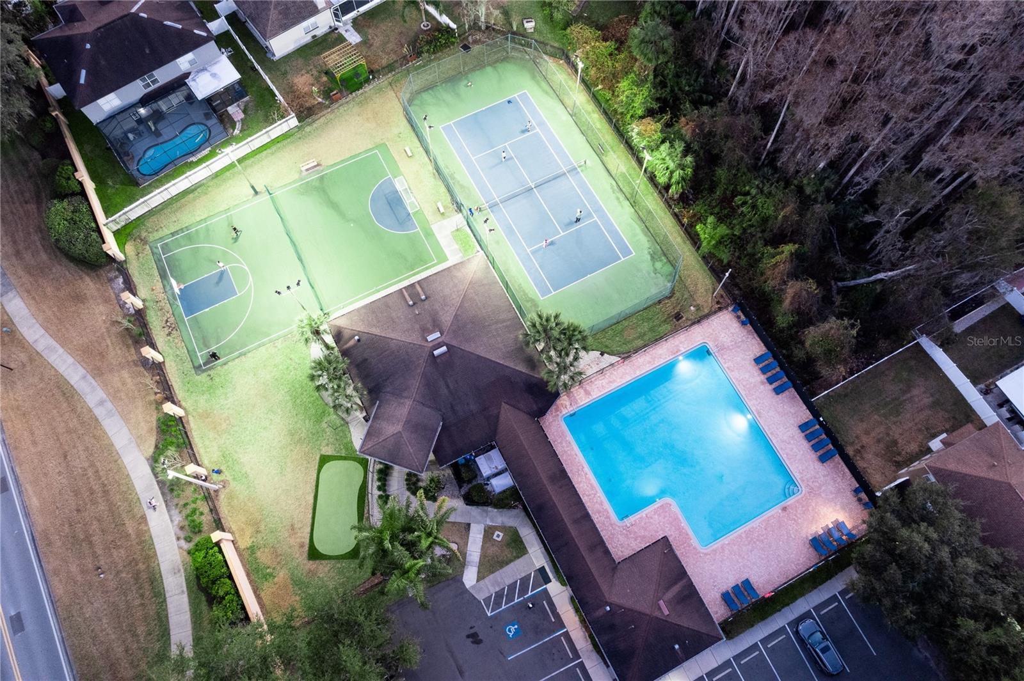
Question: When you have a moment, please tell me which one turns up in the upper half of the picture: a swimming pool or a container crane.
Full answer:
What appears in the upper half of the picture is a swimming pool.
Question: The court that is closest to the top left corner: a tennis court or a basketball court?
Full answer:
It turns out the court that is closest to the top left corner is a basketball court.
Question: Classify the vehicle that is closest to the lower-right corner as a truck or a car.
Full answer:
In the photo, the vehicle that is closest to the lower-right corner shows up as a car.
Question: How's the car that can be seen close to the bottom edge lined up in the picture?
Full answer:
Seen from above, the car that can be seen close to the bottom edge lies on a diagonal.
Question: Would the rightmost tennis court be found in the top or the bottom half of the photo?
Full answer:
The rightmost tennis court sits in the top half of the picture.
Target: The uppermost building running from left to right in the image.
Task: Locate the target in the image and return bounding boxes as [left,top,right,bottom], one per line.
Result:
[234,0,383,61]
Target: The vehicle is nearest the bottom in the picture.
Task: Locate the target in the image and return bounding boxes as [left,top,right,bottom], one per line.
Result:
[798,615,849,676]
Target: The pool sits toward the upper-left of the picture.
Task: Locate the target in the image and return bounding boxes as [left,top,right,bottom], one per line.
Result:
[135,121,211,175]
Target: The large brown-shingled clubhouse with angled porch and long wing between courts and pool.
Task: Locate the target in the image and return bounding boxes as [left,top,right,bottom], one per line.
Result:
[328,253,726,681]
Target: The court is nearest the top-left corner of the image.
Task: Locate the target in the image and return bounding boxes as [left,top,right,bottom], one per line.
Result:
[148,143,448,375]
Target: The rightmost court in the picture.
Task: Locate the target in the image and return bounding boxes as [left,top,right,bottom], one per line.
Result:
[407,56,674,337]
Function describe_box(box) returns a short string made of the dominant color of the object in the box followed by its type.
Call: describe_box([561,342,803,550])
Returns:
blue swimming pool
